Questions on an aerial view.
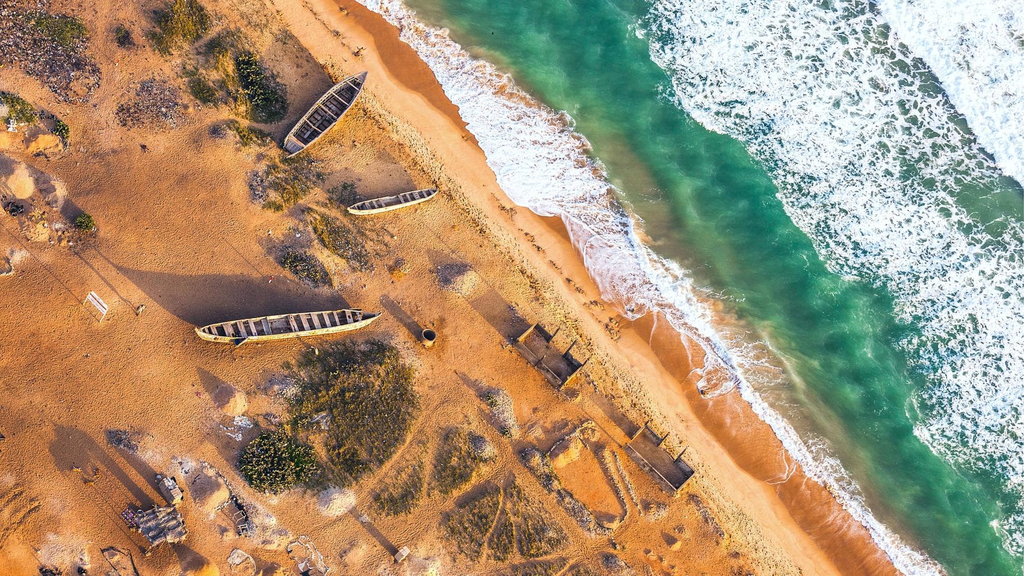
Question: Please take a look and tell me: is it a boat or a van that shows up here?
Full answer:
This aerial view contains a boat.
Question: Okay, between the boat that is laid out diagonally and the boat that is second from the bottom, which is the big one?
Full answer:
The larger object is the boat that is laid out diagonally, with the boat that is second from the bottom being the smaller of the pair.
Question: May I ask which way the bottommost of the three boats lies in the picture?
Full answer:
I'd say the bottommost of the three boats is aligned horizontally in the picture.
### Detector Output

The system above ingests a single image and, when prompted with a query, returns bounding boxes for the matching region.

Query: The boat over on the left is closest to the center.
[346,188,440,213]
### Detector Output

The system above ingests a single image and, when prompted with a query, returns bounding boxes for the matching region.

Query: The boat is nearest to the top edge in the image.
[280,70,369,162]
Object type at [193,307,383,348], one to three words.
boat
